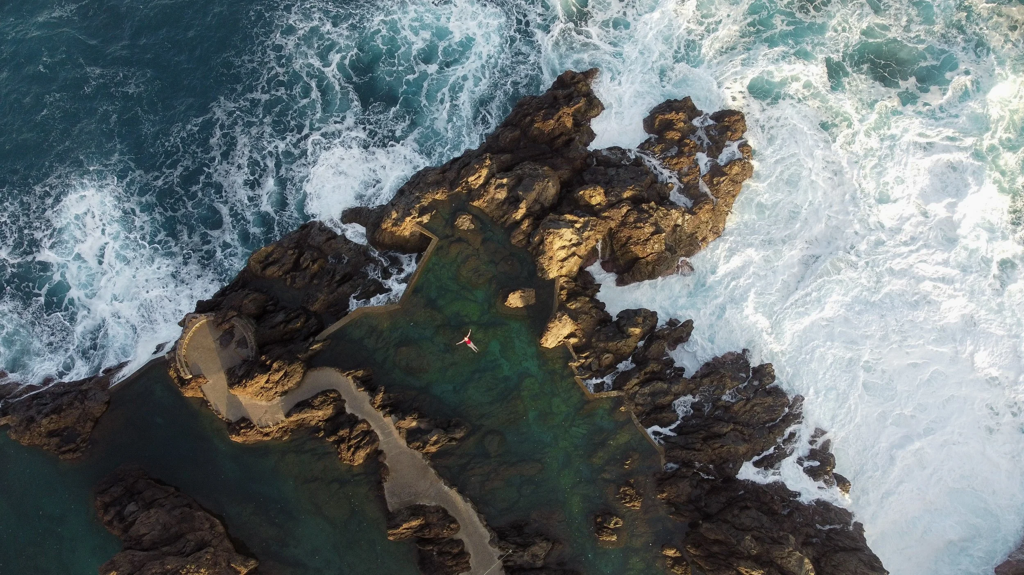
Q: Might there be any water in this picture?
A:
Yes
